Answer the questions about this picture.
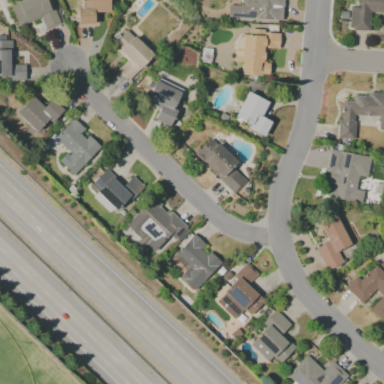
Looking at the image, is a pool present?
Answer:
Yes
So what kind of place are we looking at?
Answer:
residential area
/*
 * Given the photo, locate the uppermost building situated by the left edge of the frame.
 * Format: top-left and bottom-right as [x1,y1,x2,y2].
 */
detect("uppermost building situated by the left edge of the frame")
[12,0,62,28]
